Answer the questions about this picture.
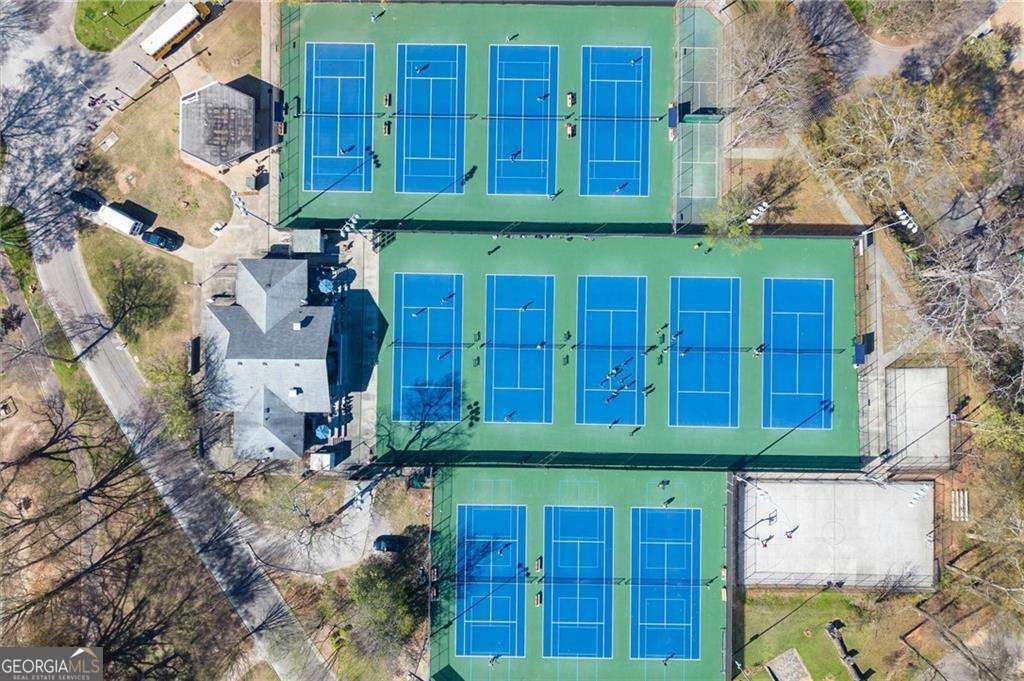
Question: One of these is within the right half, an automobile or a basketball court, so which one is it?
basketball court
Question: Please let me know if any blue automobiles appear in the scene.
Yes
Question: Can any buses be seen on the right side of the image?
No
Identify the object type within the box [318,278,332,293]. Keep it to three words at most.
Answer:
umbrella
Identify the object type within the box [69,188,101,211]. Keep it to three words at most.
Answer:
car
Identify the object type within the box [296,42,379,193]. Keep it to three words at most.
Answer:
tennis court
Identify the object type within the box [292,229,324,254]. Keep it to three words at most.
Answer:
shed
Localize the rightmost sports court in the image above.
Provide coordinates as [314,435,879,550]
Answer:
[887,366,951,471]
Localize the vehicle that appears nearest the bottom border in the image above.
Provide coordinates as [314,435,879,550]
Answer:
[374,536,406,552]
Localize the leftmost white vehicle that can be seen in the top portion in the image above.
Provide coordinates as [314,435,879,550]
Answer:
[94,204,142,234]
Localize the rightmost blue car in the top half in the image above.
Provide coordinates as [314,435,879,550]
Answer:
[143,229,178,250]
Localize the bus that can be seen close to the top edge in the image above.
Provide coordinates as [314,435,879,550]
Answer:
[141,2,210,64]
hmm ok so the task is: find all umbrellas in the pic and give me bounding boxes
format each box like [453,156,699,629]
[314,424,329,439]
[318,278,332,293]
